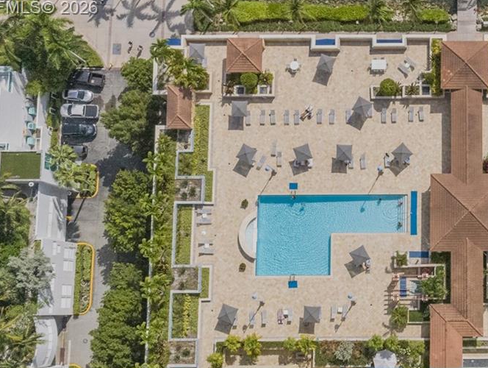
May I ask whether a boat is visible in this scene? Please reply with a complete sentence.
No, there is no boat in the image.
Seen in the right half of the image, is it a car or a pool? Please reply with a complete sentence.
Looking in the right half of the image, you will find a pool.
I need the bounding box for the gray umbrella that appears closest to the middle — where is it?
[234,141,258,164]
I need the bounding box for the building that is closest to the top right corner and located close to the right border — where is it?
[440,41,488,90]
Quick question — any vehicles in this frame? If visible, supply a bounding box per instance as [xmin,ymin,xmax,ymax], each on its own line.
[69,70,110,89]
[61,122,99,138]
[63,87,95,103]
[60,102,101,120]
[65,143,94,159]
